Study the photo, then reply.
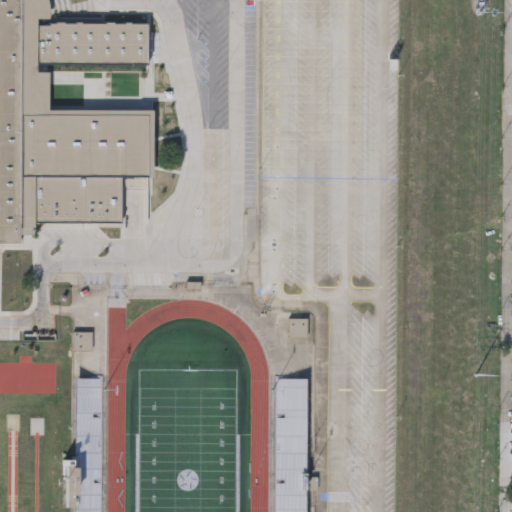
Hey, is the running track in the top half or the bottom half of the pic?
bottom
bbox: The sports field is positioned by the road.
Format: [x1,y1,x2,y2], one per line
[126,318,250,512]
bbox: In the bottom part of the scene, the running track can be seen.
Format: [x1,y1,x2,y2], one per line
[106,298,270,512]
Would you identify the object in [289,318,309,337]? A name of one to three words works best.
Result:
building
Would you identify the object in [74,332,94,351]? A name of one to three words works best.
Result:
building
